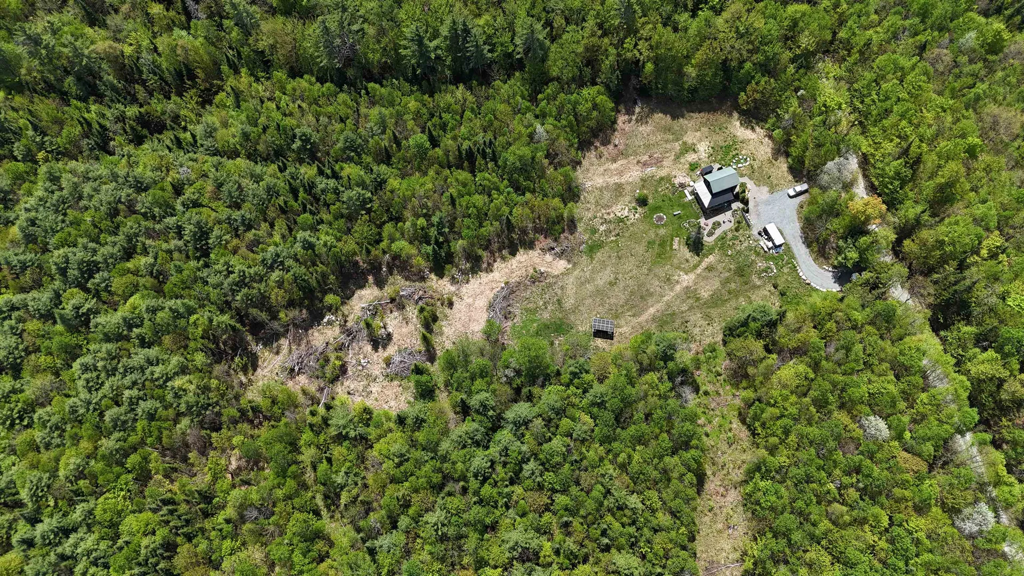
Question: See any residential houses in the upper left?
No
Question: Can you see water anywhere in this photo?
No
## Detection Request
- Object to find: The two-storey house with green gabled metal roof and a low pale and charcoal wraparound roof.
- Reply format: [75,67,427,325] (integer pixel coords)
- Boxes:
[694,166,739,216]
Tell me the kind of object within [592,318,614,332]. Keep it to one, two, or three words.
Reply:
solar array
